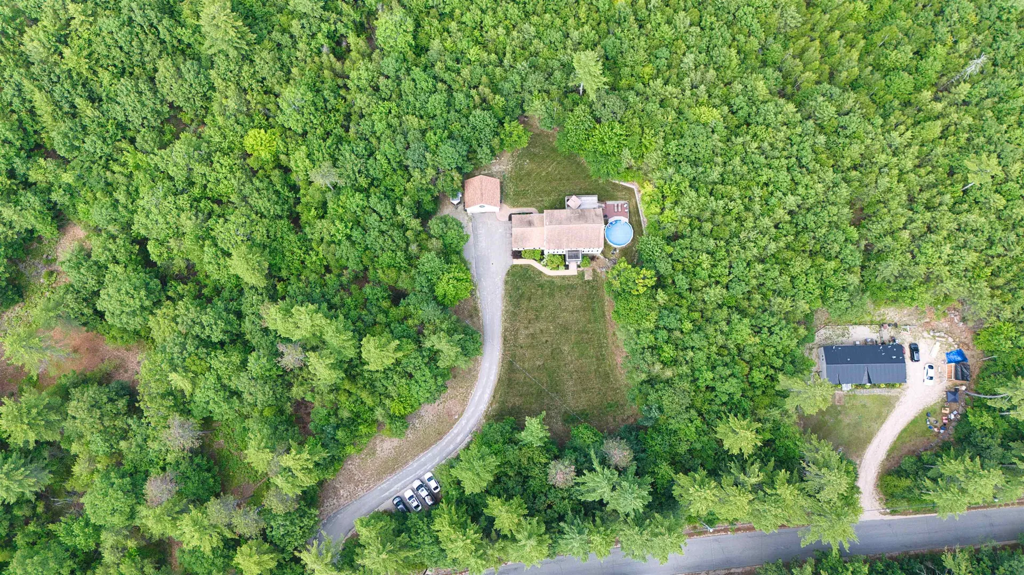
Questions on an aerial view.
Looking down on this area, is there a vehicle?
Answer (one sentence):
Yes, there's a vehicle here.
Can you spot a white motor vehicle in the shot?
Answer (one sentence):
Yes, I can see a white motor vehicle in this picture.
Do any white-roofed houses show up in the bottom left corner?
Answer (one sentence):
No, there's no white-roofed house to be seen in the bottom left corner.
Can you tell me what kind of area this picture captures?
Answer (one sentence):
What you see here is a forest.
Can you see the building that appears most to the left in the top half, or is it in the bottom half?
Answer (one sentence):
You can find the building that appears most to the left in the top half.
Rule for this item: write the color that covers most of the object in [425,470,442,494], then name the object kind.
white car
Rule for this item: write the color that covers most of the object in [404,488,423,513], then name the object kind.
white car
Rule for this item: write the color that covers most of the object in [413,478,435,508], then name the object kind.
white truck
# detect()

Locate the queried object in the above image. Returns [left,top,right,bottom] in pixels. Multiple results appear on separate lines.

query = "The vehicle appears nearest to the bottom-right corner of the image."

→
[923,363,936,386]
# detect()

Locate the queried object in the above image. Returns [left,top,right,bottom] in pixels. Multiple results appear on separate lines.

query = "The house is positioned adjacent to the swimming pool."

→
[512,208,605,267]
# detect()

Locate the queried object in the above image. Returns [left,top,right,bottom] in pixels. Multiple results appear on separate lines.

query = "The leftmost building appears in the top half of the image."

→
[465,175,500,211]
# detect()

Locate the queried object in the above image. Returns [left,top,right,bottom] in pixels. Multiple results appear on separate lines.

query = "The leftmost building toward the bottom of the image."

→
[819,345,909,391]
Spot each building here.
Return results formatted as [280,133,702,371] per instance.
[819,345,909,391]
[943,362,974,388]
[465,175,500,211]
[512,208,605,267]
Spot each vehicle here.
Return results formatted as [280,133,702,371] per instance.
[923,363,936,386]
[425,470,442,494]
[413,478,435,508]
[404,488,423,513]
[392,494,411,518]
[907,339,922,366]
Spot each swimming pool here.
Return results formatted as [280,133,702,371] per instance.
[605,219,633,248]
